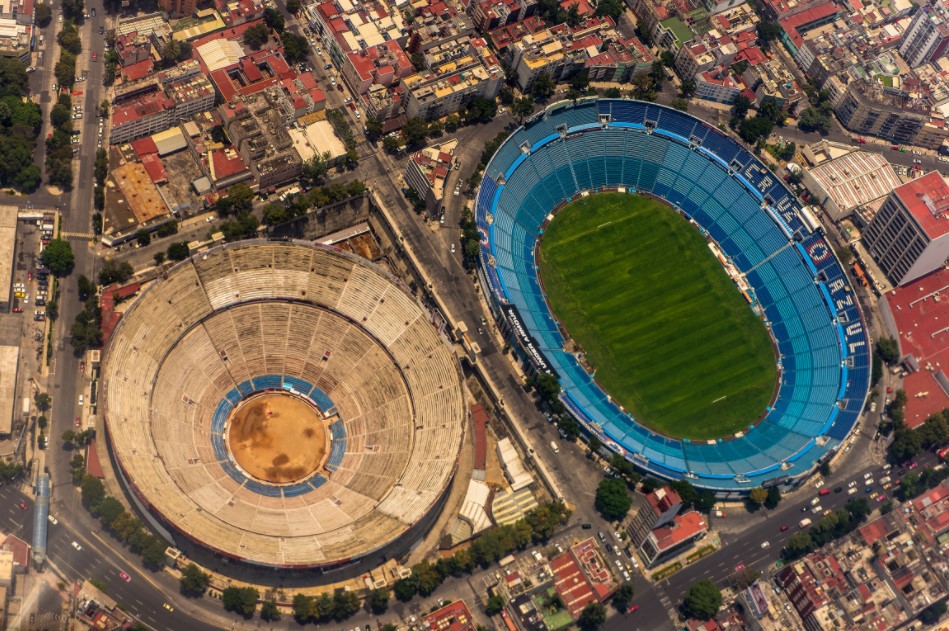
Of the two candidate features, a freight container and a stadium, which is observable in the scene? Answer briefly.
stadium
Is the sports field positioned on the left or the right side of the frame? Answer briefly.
right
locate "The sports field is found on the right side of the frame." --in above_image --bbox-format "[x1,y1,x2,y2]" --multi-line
[541,194,776,437]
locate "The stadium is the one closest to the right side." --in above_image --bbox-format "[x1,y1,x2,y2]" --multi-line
[472,91,870,500]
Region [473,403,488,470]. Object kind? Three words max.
shed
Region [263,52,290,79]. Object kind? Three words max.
house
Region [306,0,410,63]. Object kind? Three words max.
building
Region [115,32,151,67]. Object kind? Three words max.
building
